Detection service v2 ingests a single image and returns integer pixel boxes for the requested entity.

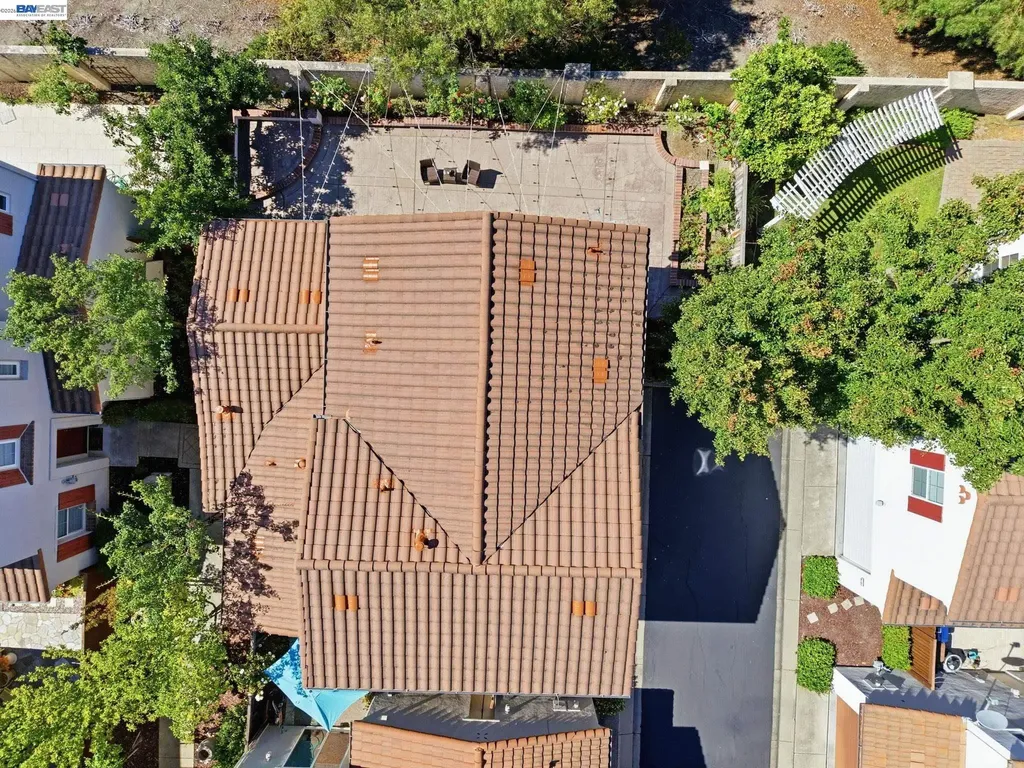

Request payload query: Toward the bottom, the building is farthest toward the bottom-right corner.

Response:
[832,668,1024,768]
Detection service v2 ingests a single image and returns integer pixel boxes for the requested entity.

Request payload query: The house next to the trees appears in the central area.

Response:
[184,207,651,704]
